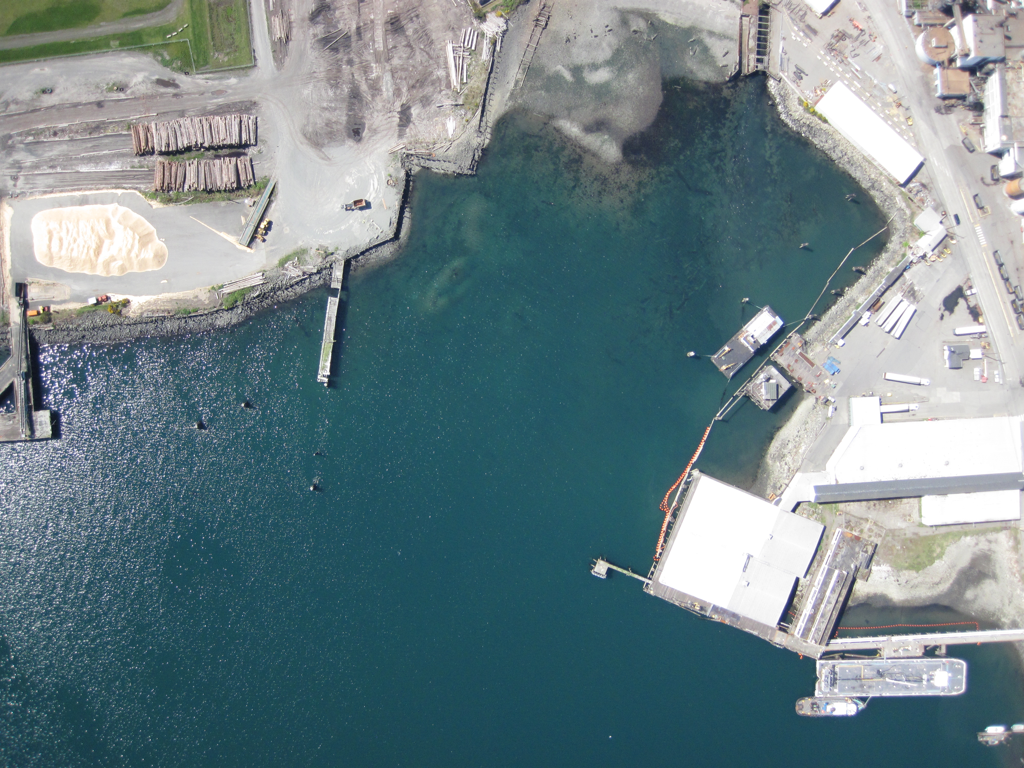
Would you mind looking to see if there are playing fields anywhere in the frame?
No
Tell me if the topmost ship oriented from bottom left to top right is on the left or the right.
right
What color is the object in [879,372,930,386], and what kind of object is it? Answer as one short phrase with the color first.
white vehicle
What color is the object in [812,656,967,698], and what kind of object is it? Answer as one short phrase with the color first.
white ship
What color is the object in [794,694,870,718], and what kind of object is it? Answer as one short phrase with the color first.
white boat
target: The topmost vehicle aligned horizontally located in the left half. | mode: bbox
[341,198,366,211]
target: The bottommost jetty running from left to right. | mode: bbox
[824,625,1024,657]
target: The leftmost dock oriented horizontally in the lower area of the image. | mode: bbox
[591,555,648,582]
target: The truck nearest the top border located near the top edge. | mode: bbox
[846,13,867,35]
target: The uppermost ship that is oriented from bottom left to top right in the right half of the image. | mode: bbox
[710,306,785,378]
